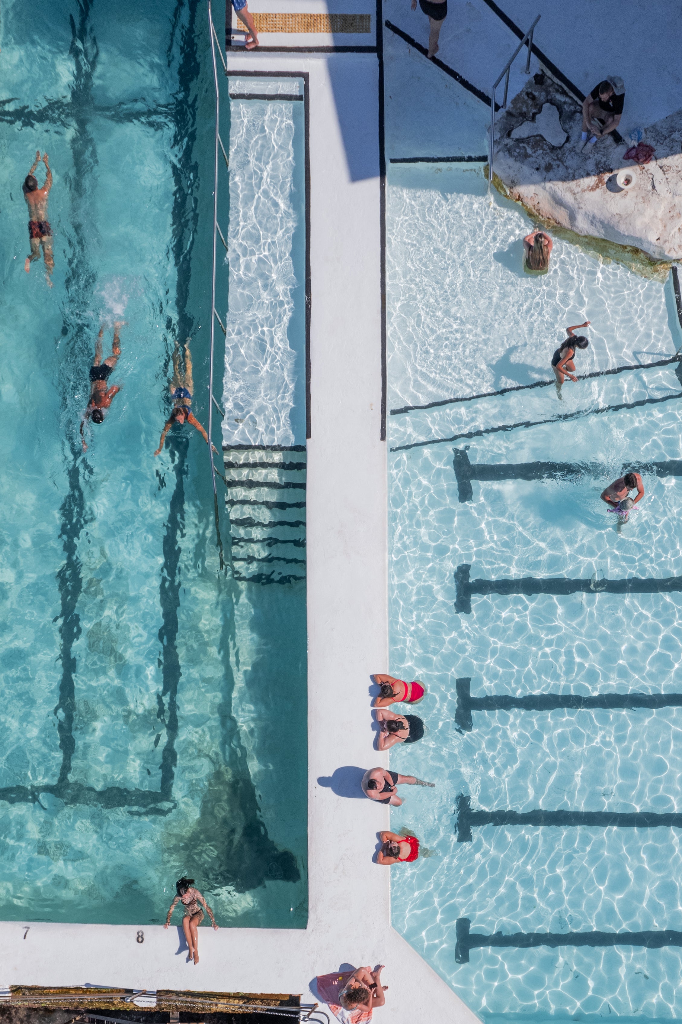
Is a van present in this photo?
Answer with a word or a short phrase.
No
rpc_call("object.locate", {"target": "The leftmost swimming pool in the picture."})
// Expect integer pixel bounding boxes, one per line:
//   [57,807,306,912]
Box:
[0,0,308,929]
